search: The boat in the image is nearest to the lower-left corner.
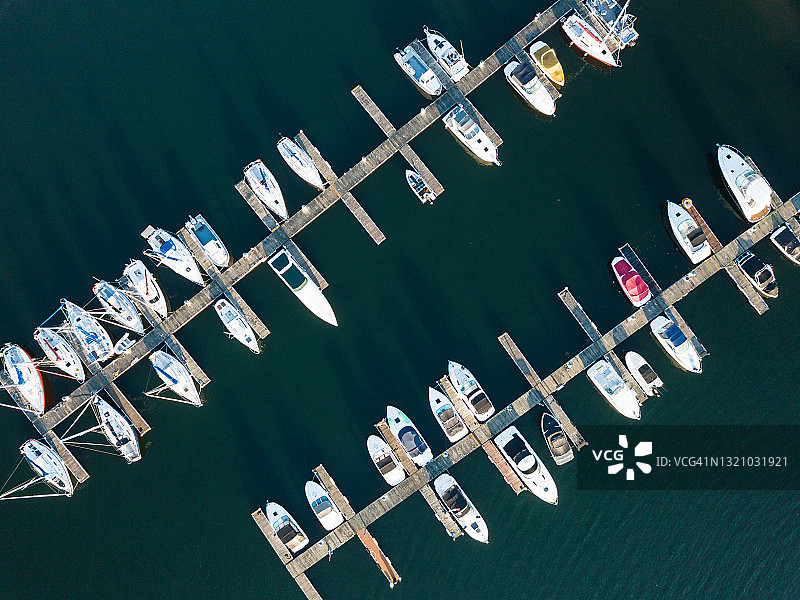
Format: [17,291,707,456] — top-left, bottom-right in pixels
[3,438,78,502]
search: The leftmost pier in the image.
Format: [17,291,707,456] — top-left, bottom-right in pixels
[0,367,43,424]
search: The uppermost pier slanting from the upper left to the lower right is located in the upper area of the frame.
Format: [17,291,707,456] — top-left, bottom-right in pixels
[573,2,620,53]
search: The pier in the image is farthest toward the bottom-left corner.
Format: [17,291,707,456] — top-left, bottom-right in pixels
[46,432,89,483]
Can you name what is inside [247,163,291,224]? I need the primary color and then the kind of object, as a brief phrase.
white boat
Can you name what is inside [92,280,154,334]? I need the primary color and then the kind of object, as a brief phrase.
white boat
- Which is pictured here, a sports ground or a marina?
marina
